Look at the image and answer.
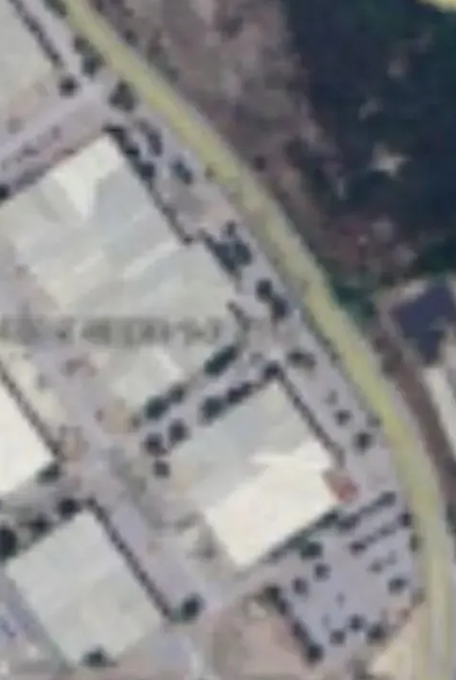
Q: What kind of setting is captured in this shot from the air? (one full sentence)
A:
It's an industrial area.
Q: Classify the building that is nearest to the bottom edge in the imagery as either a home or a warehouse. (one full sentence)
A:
It looks like the building that is nearest to the bottom edge is a warehouse.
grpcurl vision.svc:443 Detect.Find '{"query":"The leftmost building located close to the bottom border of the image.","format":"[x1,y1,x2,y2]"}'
[6,513,165,669]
